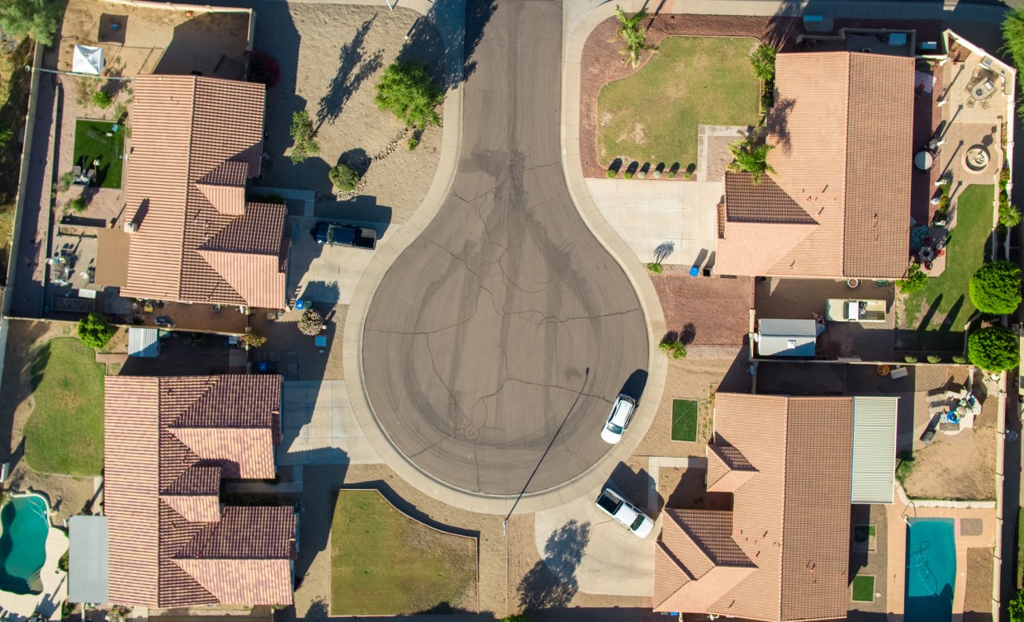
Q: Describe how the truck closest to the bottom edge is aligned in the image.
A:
diagonally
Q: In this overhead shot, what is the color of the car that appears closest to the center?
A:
white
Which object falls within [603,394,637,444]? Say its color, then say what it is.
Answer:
white car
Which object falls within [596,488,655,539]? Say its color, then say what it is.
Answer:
white truck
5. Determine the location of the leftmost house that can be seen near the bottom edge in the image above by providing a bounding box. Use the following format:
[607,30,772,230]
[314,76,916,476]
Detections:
[103,381,302,617]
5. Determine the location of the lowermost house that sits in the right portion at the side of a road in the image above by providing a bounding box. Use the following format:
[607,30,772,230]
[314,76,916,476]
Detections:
[653,396,904,622]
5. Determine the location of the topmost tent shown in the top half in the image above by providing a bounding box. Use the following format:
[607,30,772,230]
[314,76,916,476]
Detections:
[58,39,97,75]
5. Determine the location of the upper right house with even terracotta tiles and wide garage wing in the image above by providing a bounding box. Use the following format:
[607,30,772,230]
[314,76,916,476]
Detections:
[715,50,914,281]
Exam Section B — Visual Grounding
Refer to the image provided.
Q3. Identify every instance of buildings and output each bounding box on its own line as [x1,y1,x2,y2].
[122,75,293,307]
[121,327,159,356]
[757,319,818,357]
[0,464,9,486]
[103,381,302,617]
[653,396,904,622]
[715,50,914,281]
